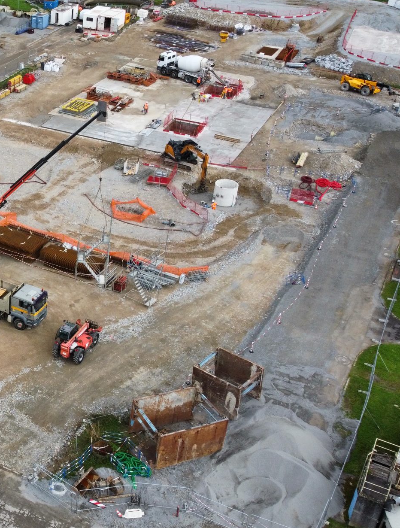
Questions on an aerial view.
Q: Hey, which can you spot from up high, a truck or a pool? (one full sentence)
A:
I can see a truck in this picture.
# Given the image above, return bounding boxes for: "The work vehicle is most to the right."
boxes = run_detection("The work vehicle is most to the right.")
[342,72,391,101]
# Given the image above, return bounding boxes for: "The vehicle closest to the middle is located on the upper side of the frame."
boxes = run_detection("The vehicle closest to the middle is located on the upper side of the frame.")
[160,141,214,180]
